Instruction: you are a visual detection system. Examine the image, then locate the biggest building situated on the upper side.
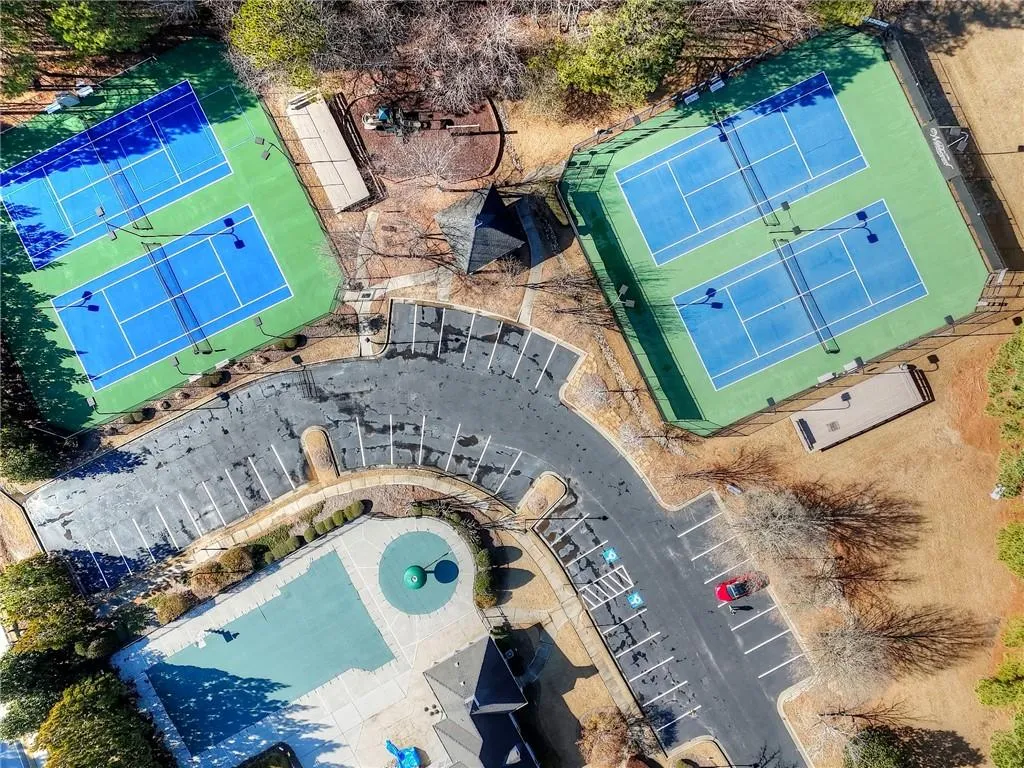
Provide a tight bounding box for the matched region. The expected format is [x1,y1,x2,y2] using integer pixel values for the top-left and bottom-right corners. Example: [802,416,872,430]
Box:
[435,184,527,274]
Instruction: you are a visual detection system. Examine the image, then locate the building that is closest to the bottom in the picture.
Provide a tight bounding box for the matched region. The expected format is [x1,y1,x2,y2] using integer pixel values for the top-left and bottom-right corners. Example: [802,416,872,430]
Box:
[423,635,549,768]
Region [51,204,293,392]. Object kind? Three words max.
tennis court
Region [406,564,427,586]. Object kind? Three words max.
fountain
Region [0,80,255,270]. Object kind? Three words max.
tennis court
